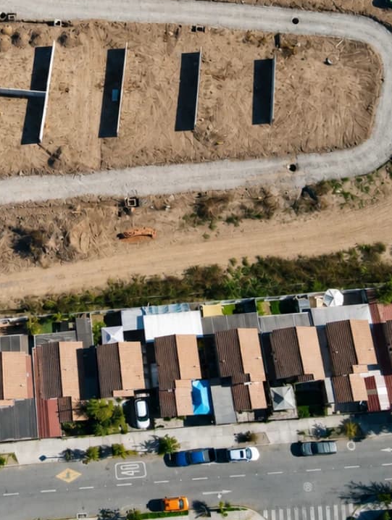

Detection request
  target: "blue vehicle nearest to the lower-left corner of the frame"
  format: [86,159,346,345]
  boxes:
[174,449,214,467]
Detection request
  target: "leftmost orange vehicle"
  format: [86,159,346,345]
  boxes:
[160,497,191,513]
